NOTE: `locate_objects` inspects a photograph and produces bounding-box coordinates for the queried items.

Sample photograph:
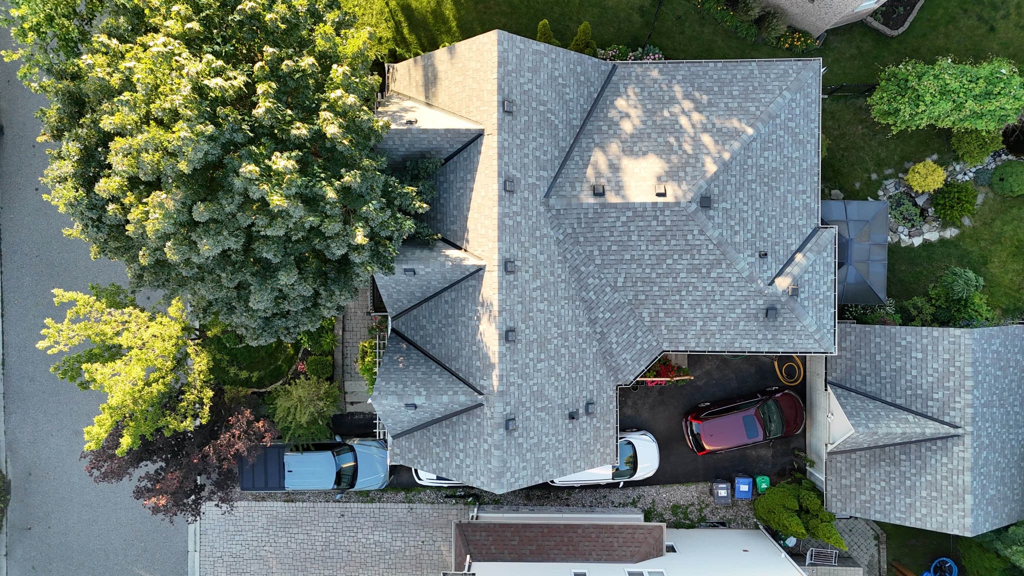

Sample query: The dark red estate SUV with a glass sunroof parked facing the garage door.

[681,390,808,460]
